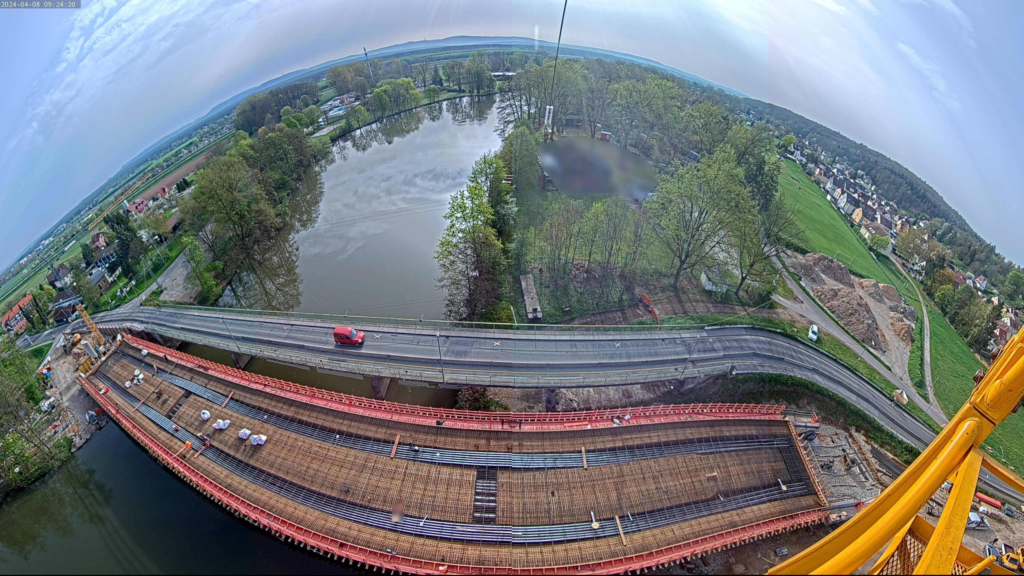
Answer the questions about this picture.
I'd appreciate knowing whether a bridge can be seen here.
Yes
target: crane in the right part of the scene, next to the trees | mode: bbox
[754,325,1024,576]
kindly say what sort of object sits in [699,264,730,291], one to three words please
shed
